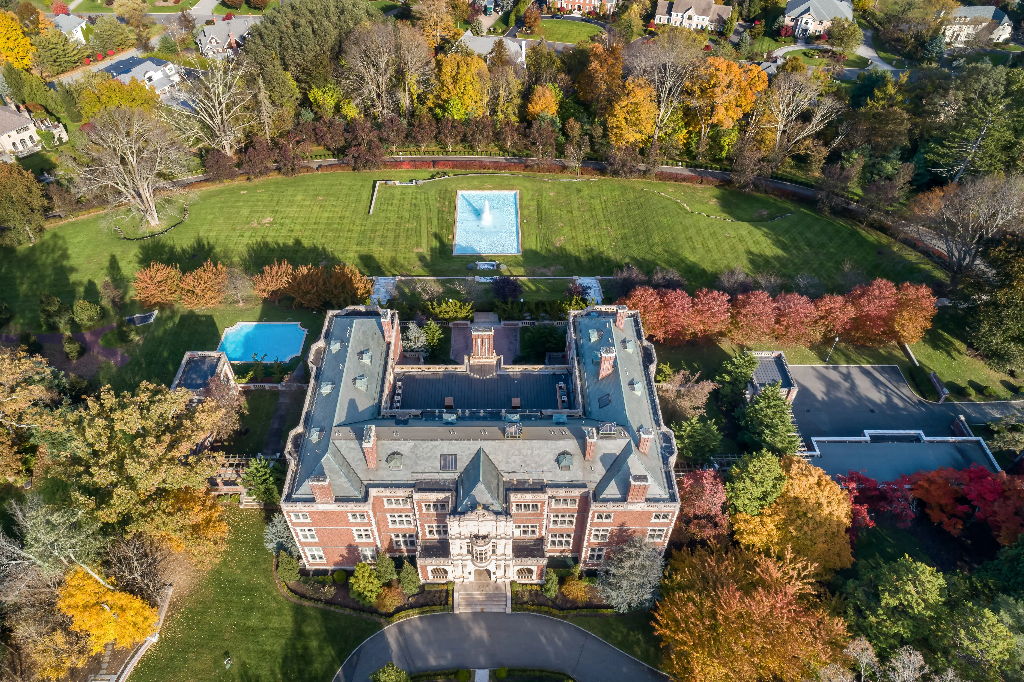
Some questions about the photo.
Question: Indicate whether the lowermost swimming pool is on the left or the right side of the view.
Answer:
left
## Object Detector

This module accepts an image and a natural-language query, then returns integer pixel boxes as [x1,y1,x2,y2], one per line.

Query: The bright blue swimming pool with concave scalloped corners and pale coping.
[216,322,308,363]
